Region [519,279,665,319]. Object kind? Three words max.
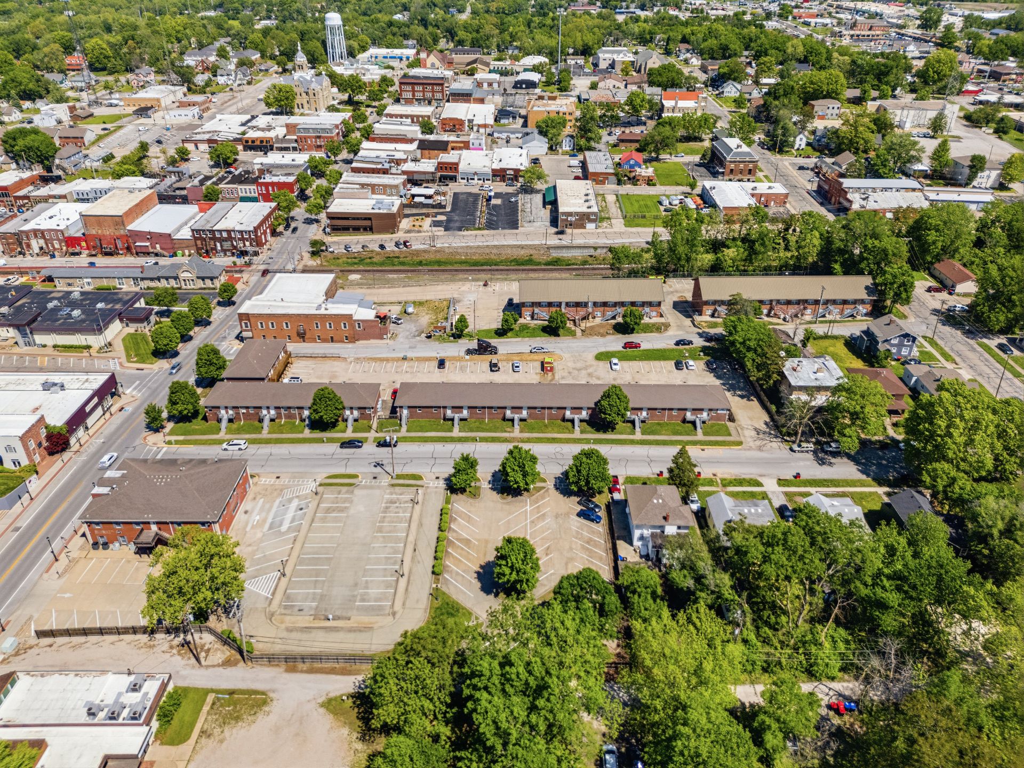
house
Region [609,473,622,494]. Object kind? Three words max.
vehicle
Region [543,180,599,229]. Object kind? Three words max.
building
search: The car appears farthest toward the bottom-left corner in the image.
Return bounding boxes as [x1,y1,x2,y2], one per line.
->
[98,452,116,468]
